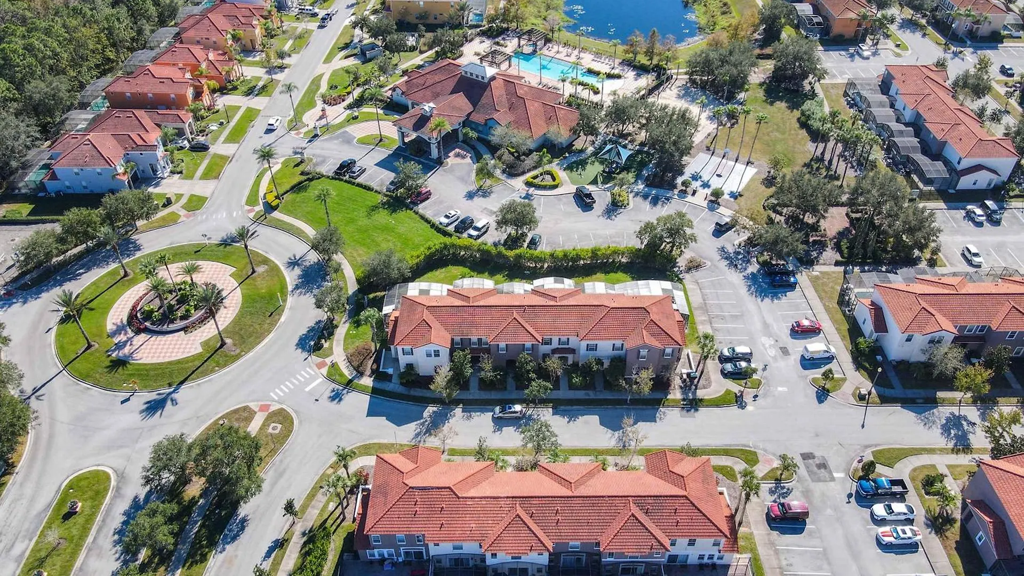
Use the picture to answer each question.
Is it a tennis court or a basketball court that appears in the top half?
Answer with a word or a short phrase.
basketball court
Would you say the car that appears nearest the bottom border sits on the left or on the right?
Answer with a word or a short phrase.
right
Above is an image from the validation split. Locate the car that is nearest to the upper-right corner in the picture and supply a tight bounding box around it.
[1000,63,1014,76]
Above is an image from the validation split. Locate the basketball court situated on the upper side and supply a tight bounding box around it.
[676,152,757,200]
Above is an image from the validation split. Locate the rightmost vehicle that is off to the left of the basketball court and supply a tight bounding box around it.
[574,186,597,207]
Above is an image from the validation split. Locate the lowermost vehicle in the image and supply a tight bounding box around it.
[875,525,924,547]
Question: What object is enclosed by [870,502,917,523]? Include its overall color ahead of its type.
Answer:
white car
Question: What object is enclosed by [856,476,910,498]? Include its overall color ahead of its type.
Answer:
blue truck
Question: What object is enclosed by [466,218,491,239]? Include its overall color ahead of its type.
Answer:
white car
